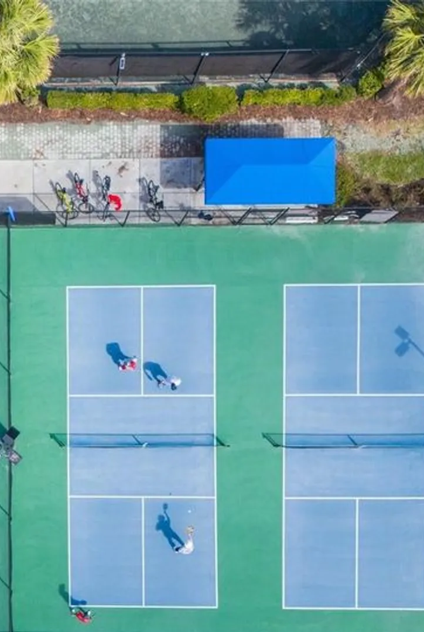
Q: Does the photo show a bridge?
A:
No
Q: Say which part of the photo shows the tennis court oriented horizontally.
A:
top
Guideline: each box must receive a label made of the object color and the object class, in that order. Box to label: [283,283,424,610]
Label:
blue sports court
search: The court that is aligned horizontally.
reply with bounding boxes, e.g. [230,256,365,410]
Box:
[32,0,410,82]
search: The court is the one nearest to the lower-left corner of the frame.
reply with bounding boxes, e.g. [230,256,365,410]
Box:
[66,285,217,608]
